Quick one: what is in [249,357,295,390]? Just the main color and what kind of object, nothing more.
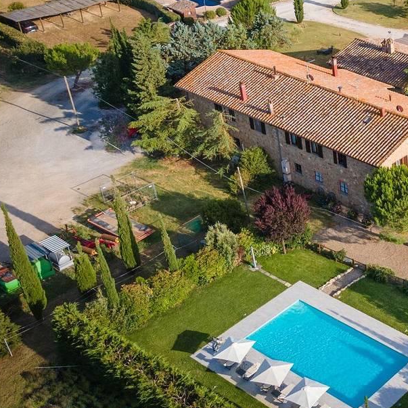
white umbrella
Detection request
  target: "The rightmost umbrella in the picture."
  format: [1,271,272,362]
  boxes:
[284,377,333,408]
